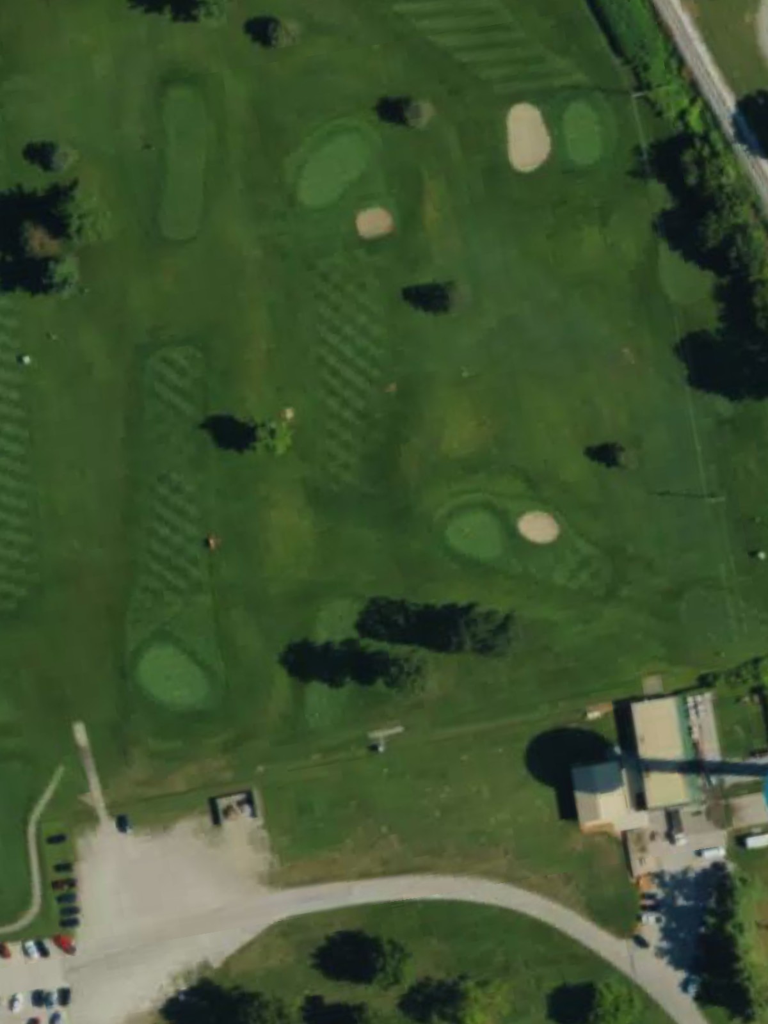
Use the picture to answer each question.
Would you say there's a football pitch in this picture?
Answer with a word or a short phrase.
No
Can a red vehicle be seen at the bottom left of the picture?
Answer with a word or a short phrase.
Yes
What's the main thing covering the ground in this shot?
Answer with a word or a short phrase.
grass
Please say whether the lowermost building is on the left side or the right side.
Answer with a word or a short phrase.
right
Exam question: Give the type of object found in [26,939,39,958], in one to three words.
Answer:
vehicle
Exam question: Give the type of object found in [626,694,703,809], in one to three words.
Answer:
building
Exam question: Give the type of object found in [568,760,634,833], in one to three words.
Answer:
building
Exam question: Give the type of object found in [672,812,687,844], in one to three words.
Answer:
vehicle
